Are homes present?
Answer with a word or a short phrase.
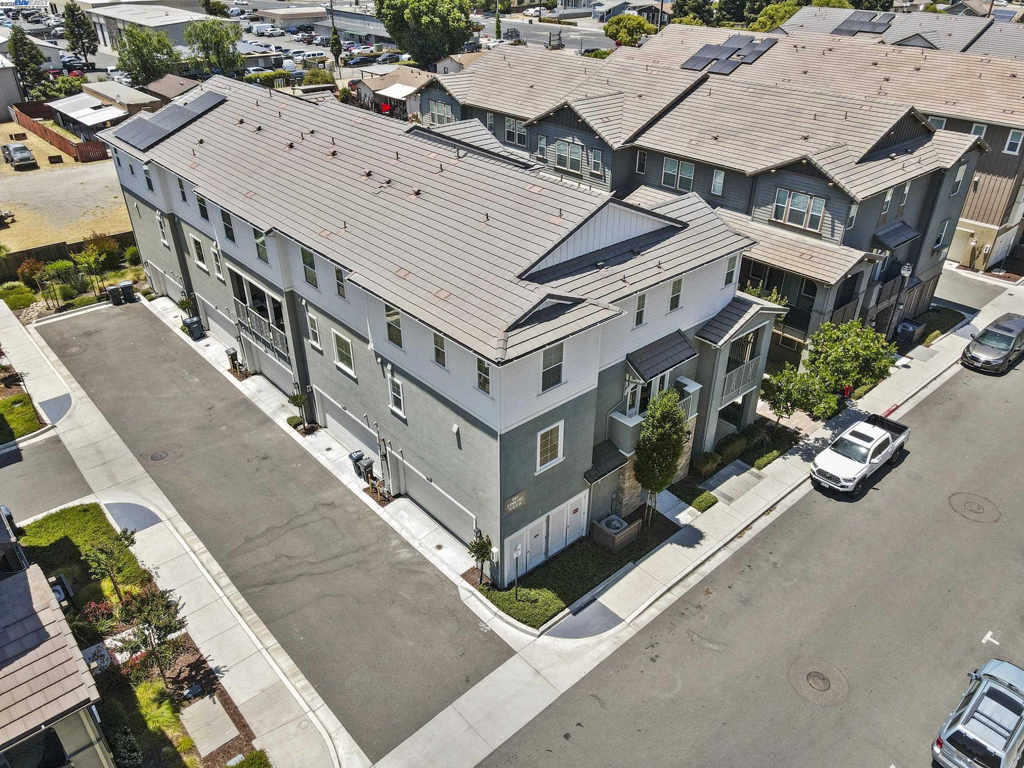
Yes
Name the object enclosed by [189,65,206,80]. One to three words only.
car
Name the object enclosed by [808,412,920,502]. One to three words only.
truck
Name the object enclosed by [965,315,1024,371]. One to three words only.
car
